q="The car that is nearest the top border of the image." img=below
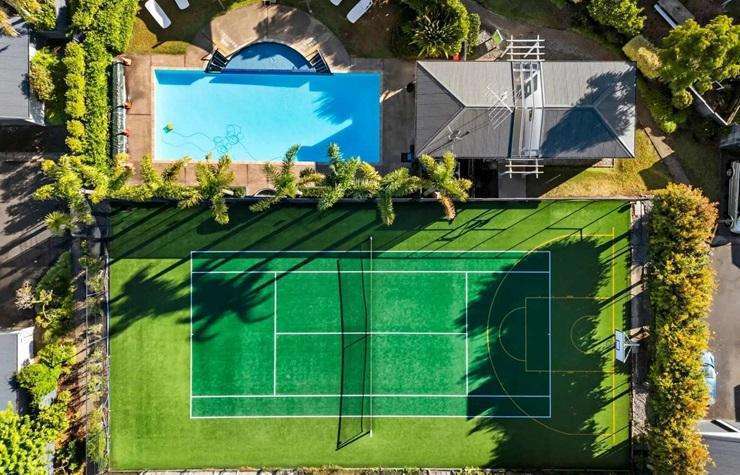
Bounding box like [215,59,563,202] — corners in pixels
[716,124,740,153]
